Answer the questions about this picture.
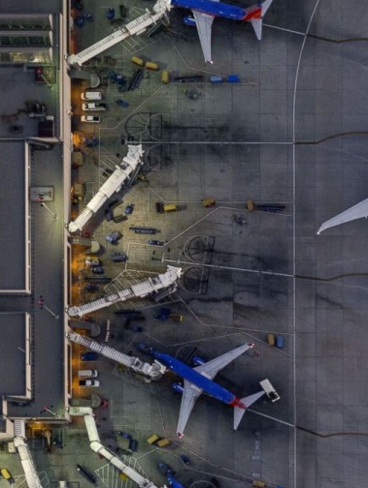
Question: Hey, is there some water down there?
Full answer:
No, the scene doesn't show any water.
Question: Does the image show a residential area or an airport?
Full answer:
What you see here is an airport.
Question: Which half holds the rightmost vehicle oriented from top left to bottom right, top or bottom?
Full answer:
Seen from above, the rightmost vehicle oriented from top left to bottom right lies in the bottom half of the view.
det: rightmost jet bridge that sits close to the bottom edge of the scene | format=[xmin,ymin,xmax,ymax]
[68,406,177,488]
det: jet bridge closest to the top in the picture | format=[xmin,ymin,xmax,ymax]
[68,0,181,75]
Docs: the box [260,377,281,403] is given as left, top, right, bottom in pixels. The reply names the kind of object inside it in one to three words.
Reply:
vehicle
